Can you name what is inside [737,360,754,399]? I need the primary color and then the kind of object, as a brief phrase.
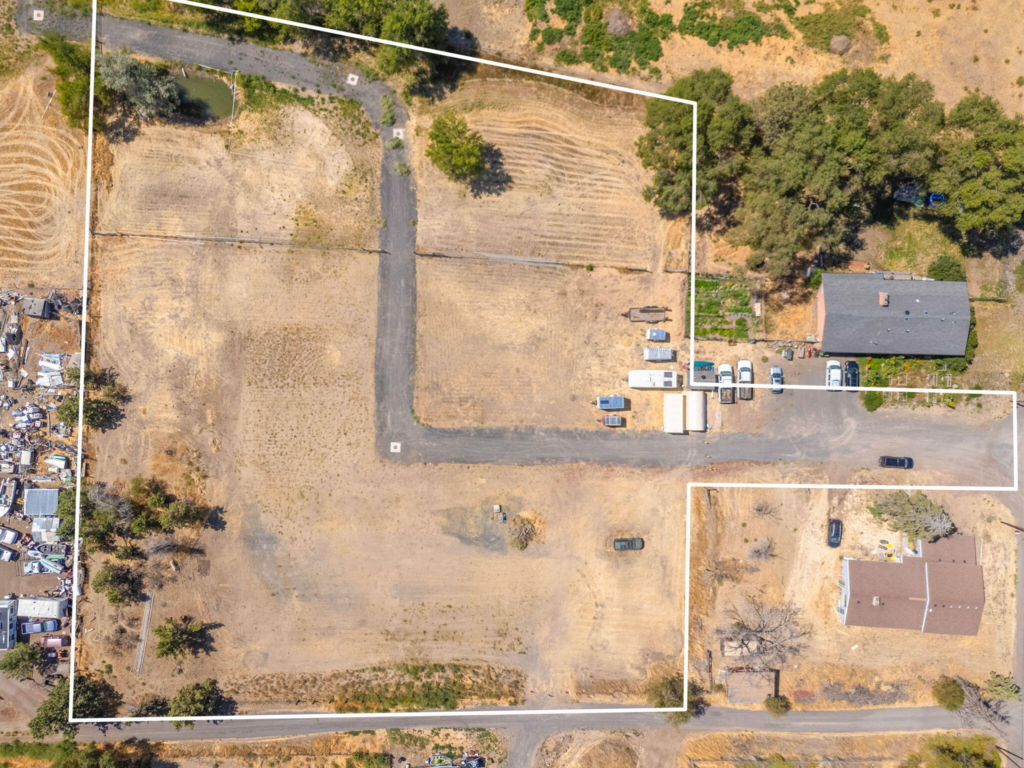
white vehicle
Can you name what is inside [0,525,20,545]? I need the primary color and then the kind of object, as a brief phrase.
white car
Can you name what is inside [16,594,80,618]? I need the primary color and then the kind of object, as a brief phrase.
white vehicle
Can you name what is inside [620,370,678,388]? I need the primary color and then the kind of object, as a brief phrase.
white camper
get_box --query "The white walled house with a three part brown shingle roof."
[831,534,985,636]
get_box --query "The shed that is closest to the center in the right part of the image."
[684,370,716,389]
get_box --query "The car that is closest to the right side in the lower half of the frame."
[877,455,913,471]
